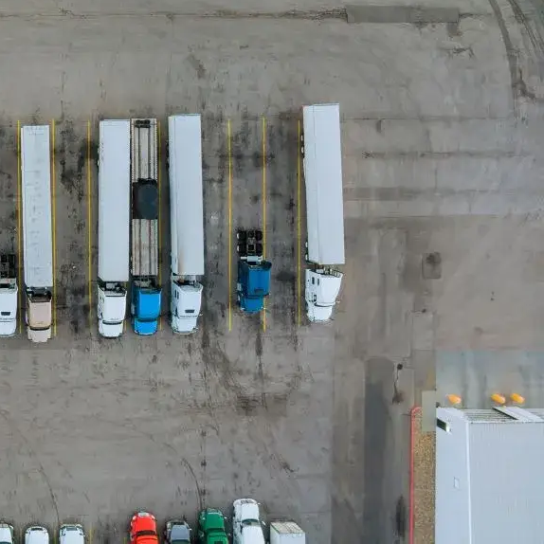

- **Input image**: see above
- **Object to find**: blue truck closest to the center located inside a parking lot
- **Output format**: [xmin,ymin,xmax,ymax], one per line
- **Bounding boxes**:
[237,232,271,313]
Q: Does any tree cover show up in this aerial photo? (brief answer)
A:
No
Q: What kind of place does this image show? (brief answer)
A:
parking lot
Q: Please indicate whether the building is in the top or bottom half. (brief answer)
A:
bottom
